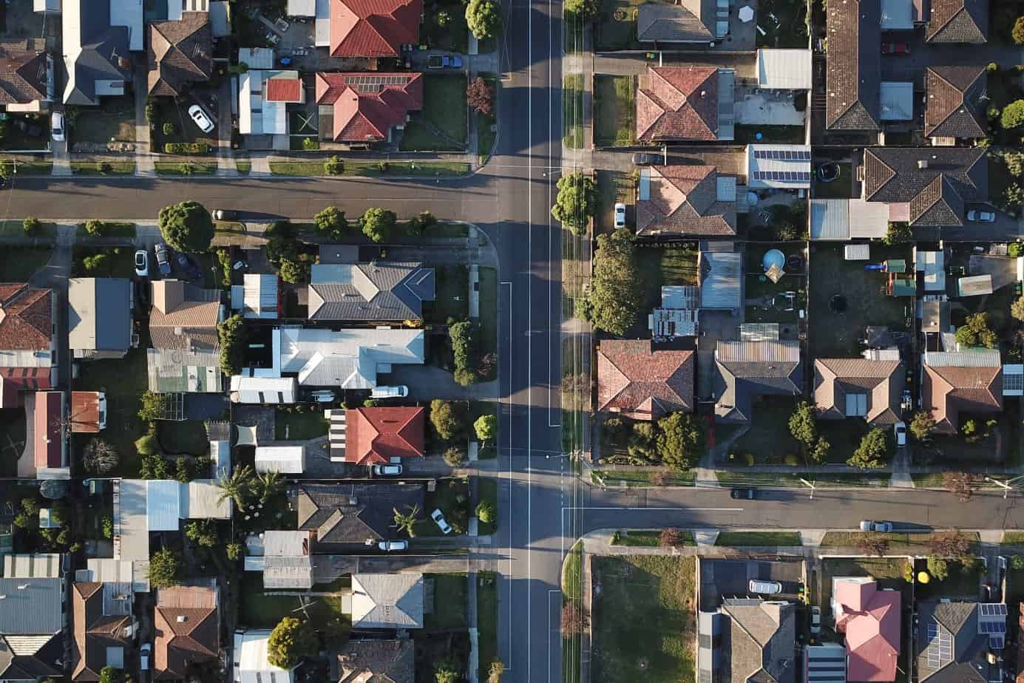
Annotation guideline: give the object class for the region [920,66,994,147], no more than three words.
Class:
house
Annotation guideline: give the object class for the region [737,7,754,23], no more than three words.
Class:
umbrella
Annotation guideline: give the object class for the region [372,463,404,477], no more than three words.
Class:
car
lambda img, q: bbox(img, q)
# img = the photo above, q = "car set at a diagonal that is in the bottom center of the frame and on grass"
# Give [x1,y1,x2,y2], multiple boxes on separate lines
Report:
[430,507,453,535]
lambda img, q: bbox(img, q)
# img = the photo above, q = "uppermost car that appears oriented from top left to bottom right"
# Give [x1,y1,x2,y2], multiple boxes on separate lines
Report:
[187,103,215,134]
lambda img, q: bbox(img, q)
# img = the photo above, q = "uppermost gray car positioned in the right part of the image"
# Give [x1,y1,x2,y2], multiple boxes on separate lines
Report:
[631,151,664,166]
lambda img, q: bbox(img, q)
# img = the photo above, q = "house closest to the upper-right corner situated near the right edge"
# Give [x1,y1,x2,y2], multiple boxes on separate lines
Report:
[913,0,988,45]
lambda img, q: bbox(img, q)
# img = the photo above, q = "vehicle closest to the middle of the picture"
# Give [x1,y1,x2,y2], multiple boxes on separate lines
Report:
[372,384,406,400]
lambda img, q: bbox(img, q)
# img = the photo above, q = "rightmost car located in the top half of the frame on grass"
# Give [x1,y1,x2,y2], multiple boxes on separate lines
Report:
[613,202,628,230]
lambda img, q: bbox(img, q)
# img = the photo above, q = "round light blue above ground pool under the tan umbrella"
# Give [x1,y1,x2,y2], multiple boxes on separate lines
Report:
[762,248,785,269]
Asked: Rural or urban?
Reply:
urban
